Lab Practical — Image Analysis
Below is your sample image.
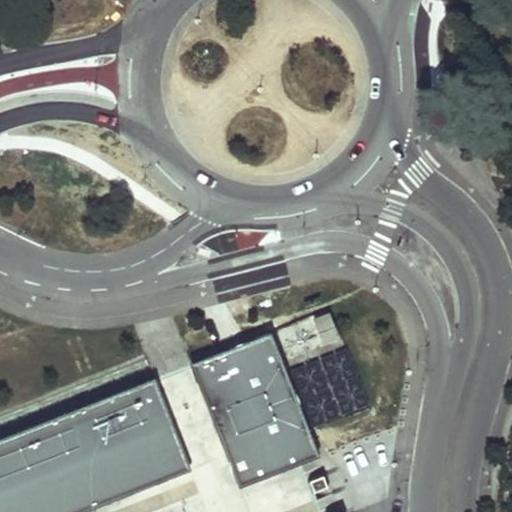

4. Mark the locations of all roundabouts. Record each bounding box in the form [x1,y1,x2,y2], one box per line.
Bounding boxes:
[118,0,419,226]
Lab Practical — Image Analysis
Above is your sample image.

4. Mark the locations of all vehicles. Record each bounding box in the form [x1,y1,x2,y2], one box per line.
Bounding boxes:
[195,171,218,188]
[389,140,405,161]
[348,140,366,161]
[376,445,388,467]
[96,113,118,126]
[292,180,314,195]
[345,454,360,477]
[354,447,369,469]
[370,78,380,98]
[392,500,403,512]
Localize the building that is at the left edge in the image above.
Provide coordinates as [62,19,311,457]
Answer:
[0,380,190,512]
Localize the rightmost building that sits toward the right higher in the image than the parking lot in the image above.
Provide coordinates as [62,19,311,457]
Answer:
[278,312,370,428]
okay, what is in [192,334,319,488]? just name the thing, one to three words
building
